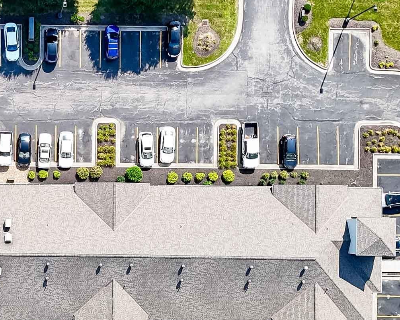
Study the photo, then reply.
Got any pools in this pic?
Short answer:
No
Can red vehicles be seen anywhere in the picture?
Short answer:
No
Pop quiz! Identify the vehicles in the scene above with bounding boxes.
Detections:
[384,190,400,208]
[241,123,261,166]
[139,131,154,167]
[0,130,12,167]
[44,28,61,63]
[3,23,20,61]
[166,21,183,57]
[16,133,31,167]
[159,126,176,164]
[281,134,299,168]
[37,134,51,168]
[57,131,75,167]
[105,25,121,61]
